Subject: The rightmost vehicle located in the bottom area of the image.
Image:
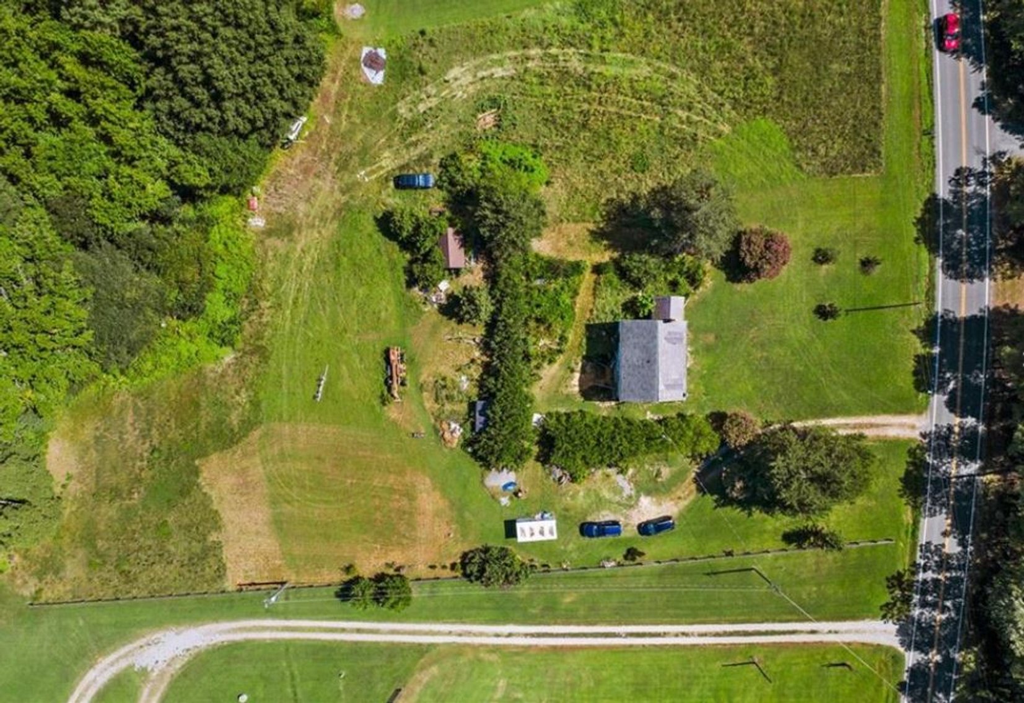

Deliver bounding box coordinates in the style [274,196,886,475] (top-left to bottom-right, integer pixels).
[637,516,678,540]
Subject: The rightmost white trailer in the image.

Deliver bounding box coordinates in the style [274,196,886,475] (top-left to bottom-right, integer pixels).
[515,519,564,544]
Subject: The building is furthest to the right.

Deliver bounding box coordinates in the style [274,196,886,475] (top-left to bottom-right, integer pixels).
[606,291,688,403]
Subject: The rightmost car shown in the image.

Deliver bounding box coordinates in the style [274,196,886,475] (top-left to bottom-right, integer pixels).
[943,10,966,51]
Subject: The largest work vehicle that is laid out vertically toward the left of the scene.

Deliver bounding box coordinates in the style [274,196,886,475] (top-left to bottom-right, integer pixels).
[385,348,404,400]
